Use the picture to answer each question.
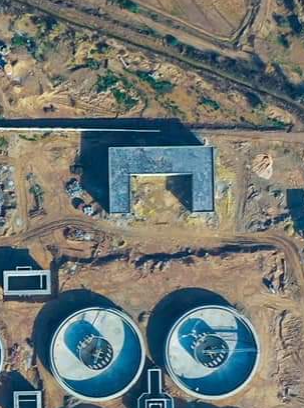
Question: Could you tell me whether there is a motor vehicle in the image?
No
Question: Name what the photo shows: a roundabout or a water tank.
water tank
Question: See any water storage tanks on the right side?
Yes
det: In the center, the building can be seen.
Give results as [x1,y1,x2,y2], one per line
[103,146,215,219]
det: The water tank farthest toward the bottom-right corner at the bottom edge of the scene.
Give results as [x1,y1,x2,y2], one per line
[162,306,260,400]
